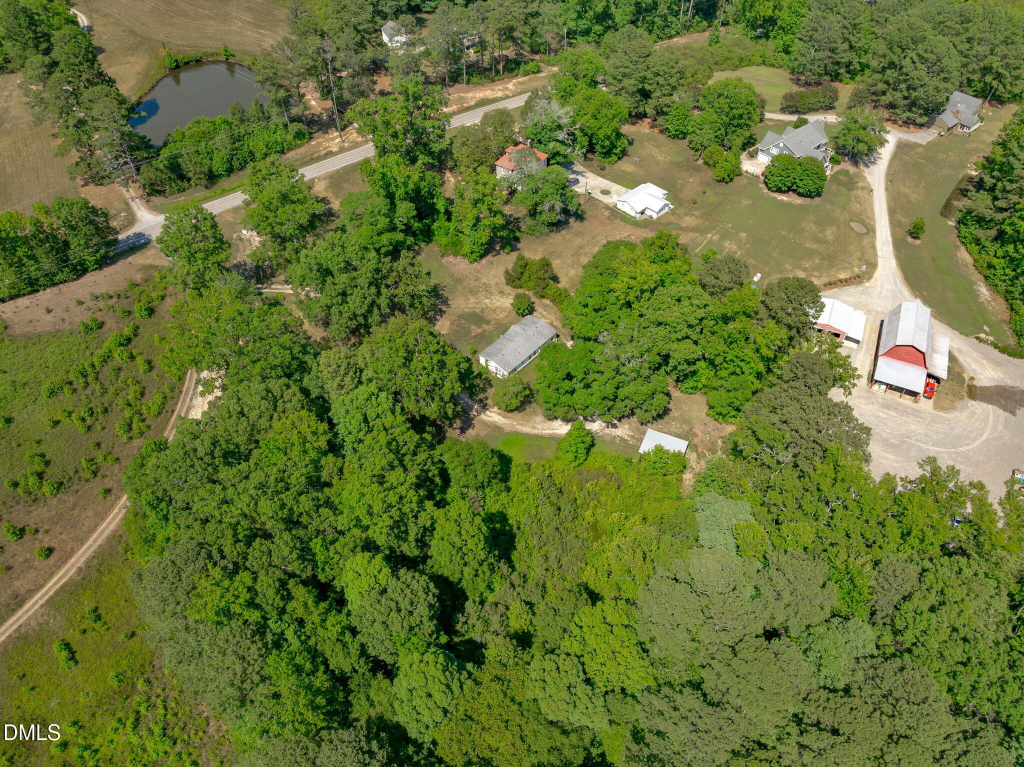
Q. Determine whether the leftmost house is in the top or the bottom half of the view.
top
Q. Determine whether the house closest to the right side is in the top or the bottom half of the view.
top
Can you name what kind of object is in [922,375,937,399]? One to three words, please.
vehicle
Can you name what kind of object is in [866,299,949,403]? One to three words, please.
barn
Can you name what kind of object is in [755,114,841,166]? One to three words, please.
house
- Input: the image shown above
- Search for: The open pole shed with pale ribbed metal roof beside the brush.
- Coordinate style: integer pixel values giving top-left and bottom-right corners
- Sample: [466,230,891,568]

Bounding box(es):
[637,429,689,461]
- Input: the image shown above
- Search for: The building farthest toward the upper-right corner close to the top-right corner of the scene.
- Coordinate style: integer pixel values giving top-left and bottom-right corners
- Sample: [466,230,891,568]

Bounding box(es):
[929,91,986,136]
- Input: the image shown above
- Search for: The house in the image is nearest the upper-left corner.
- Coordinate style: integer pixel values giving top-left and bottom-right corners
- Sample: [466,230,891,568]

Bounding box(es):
[382,17,413,47]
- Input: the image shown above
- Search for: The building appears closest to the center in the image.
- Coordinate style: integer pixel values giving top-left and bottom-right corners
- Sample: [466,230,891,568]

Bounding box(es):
[478,316,558,381]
